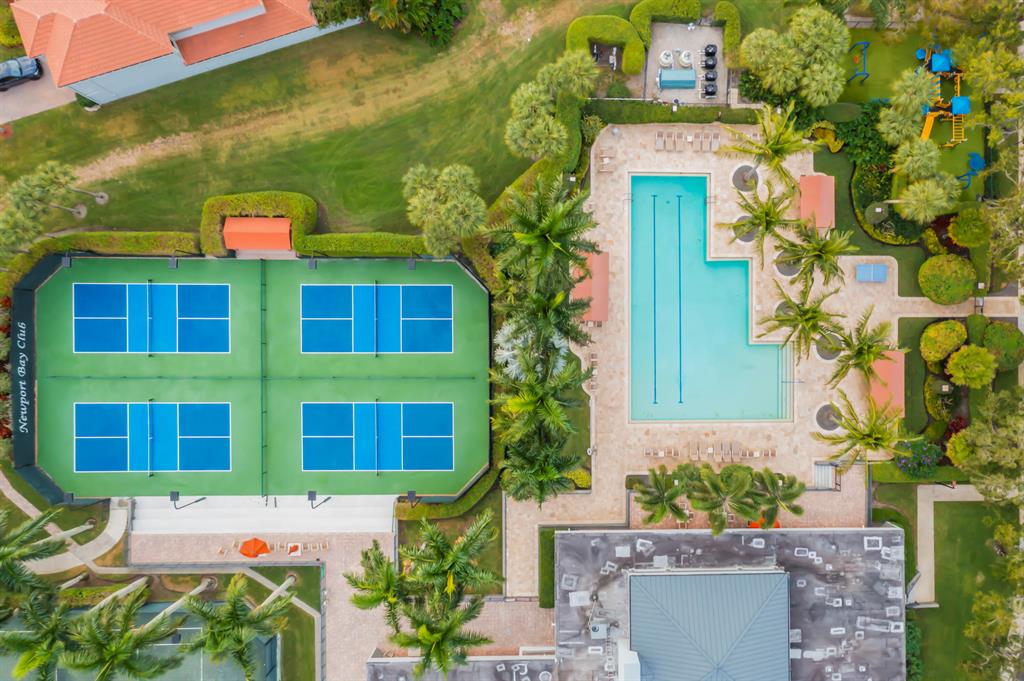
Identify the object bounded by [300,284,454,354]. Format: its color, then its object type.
blue sports court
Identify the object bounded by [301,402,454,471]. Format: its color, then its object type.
blue sports court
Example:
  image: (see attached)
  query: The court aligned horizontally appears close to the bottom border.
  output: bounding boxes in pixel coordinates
[0,604,276,681]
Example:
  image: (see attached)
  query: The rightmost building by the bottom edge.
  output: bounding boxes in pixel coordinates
[556,530,905,681]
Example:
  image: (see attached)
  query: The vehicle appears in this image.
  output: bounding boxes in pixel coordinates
[0,51,41,88]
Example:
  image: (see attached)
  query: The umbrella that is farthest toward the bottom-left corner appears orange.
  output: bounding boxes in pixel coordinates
[242,532,270,560]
